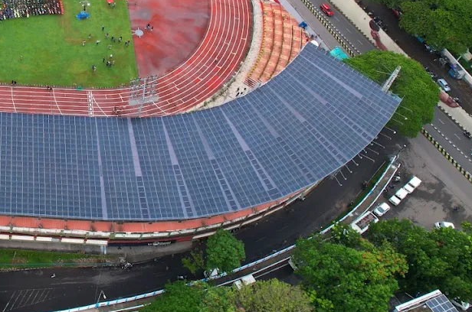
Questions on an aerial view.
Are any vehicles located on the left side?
No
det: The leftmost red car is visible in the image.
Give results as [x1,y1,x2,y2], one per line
[318,1,336,15]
